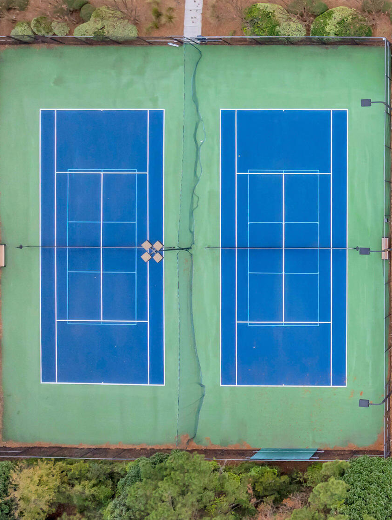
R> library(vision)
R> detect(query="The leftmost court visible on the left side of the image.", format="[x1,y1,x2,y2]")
[0,44,193,446]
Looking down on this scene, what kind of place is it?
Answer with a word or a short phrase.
sports ground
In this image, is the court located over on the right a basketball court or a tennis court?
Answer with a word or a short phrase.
tennis court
